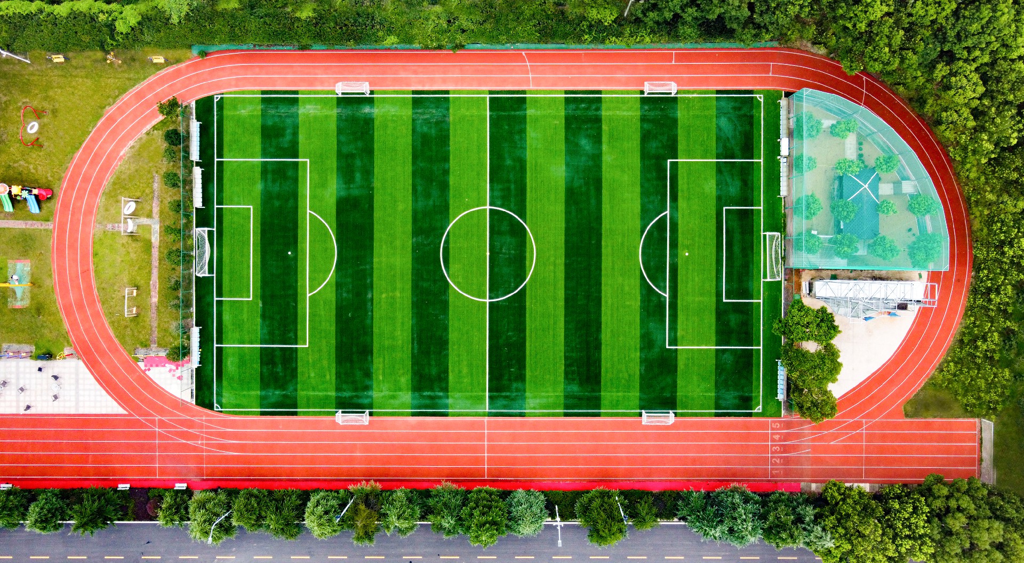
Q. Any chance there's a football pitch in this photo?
Yes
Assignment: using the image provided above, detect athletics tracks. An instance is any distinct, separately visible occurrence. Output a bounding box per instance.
[0,48,980,484]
